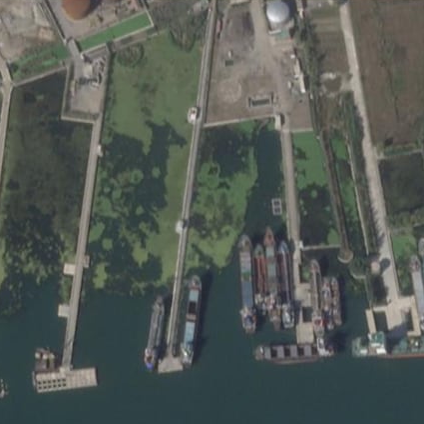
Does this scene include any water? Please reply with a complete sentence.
Yes, water shows up in the scene.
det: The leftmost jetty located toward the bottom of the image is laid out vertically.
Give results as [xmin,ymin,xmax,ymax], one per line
[36,120,103,392]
